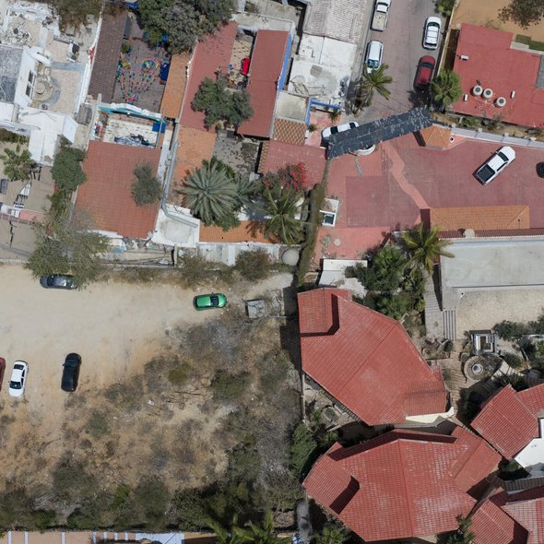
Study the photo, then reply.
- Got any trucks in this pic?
Yes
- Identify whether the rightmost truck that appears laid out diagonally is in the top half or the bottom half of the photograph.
top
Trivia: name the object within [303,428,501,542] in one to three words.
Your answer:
house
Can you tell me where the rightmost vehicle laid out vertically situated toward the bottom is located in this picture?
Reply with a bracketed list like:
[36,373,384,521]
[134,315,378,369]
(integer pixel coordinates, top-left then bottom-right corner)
[62,354,82,392]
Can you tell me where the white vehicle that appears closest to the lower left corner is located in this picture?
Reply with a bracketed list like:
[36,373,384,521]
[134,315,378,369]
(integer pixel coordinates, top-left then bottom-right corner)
[8,361,30,396]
